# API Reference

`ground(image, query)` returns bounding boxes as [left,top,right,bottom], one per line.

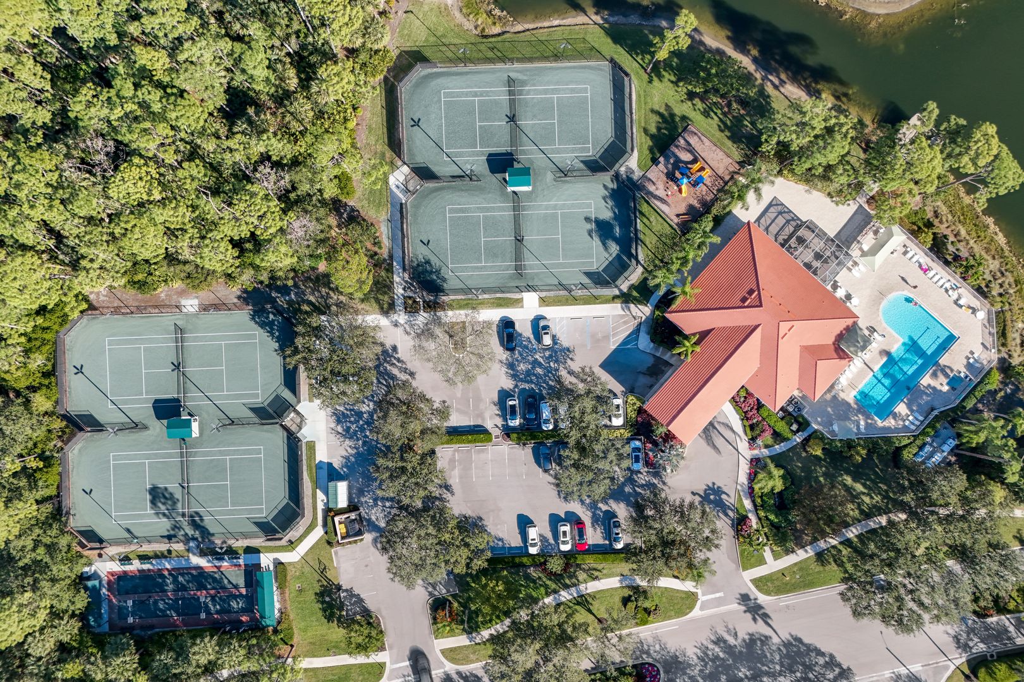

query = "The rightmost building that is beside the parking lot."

[643,219,859,447]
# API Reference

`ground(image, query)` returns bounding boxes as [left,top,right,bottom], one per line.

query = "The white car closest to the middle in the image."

[539,318,553,348]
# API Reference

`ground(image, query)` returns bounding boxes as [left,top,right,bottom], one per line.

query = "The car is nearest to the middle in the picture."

[503,320,516,350]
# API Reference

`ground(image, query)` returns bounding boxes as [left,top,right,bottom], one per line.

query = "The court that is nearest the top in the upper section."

[401,61,631,182]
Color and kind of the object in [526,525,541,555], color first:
white car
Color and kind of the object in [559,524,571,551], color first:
white vehicle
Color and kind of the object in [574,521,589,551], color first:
red car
